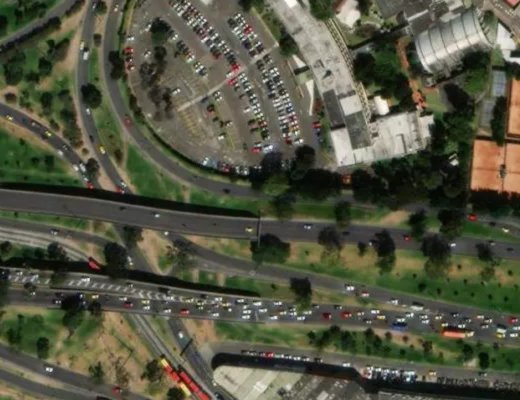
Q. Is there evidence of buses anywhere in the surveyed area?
Yes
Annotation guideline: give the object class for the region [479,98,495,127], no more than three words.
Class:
tennis court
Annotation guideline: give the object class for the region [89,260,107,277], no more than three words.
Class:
vehicle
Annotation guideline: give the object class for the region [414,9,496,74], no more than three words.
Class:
building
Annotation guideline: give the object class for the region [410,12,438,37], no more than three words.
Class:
building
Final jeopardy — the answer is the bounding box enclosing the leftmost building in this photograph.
[213,365,307,400]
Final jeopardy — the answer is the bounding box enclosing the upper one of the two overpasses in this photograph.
[0,189,258,241]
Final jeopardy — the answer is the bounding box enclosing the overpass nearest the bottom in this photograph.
[0,267,262,323]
